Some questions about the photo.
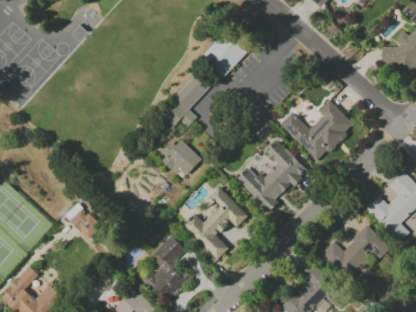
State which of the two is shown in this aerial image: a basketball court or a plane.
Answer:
basketball court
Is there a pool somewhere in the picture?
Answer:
Yes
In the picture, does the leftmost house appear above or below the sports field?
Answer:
below it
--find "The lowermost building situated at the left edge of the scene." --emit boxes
[0,265,57,312]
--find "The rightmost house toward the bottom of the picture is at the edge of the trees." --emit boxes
[368,171,416,238]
